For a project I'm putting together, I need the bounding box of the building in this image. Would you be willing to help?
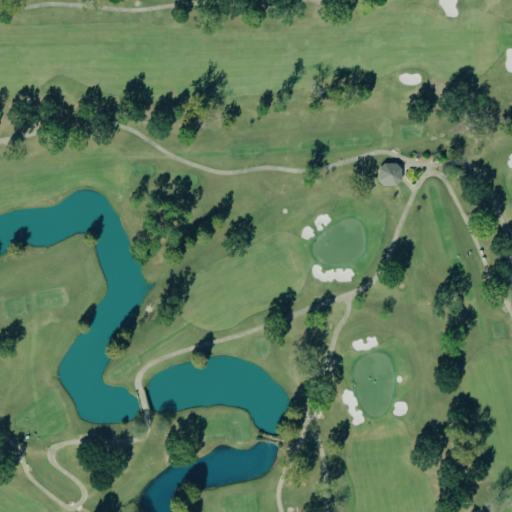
[379,163,402,186]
